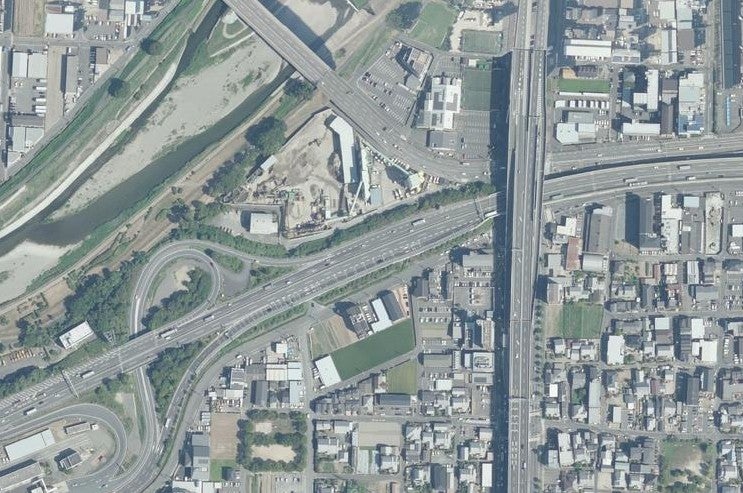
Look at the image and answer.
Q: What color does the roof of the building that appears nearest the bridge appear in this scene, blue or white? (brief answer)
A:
white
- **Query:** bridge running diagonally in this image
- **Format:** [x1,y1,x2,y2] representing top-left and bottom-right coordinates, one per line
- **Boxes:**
[222,0,348,94]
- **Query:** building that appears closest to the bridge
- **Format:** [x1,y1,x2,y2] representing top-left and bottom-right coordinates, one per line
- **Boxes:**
[330,116,353,183]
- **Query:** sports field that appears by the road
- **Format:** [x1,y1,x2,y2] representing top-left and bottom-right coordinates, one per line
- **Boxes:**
[332,319,415,381]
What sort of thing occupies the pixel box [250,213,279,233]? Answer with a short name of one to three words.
building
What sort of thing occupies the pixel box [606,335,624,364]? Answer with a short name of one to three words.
building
